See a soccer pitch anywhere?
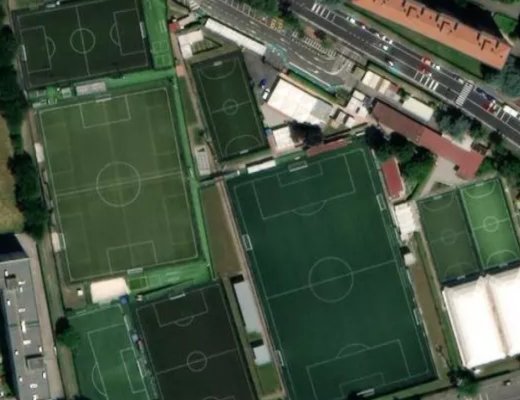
Yes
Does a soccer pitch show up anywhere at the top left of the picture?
Yes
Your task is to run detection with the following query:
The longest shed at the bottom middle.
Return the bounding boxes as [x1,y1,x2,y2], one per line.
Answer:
[233,278,264,336]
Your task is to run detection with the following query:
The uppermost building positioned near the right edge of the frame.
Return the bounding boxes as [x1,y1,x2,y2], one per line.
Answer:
[350,0,511,70]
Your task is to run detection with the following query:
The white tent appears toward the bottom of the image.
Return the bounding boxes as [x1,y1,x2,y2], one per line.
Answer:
[91,277,128,303]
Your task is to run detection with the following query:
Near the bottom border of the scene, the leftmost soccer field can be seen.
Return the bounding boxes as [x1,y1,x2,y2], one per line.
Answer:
[64,301,151,400]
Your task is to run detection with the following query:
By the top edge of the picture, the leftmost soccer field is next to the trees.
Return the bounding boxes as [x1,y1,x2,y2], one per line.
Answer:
[13,0,151,92]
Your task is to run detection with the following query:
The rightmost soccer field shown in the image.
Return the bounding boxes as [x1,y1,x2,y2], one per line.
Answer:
[461,180,520,274]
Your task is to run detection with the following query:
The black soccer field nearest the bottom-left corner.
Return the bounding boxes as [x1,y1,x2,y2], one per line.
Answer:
[132,281,255,400]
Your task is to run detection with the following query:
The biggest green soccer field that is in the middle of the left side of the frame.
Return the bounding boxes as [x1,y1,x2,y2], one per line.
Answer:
[37,86,200,284]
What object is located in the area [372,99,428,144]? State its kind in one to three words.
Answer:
house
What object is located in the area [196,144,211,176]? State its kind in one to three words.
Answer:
shed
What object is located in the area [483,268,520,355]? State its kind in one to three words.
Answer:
building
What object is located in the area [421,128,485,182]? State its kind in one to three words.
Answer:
house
